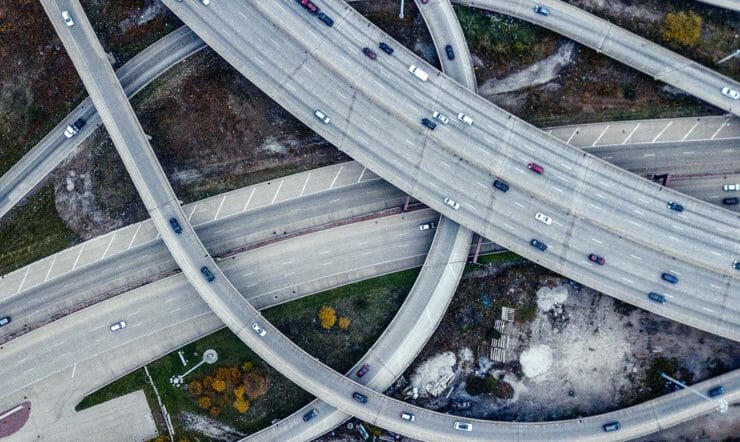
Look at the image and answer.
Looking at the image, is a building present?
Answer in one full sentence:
No, there isn't any building down there.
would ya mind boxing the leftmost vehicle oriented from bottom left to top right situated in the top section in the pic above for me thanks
[66,119,84,136]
